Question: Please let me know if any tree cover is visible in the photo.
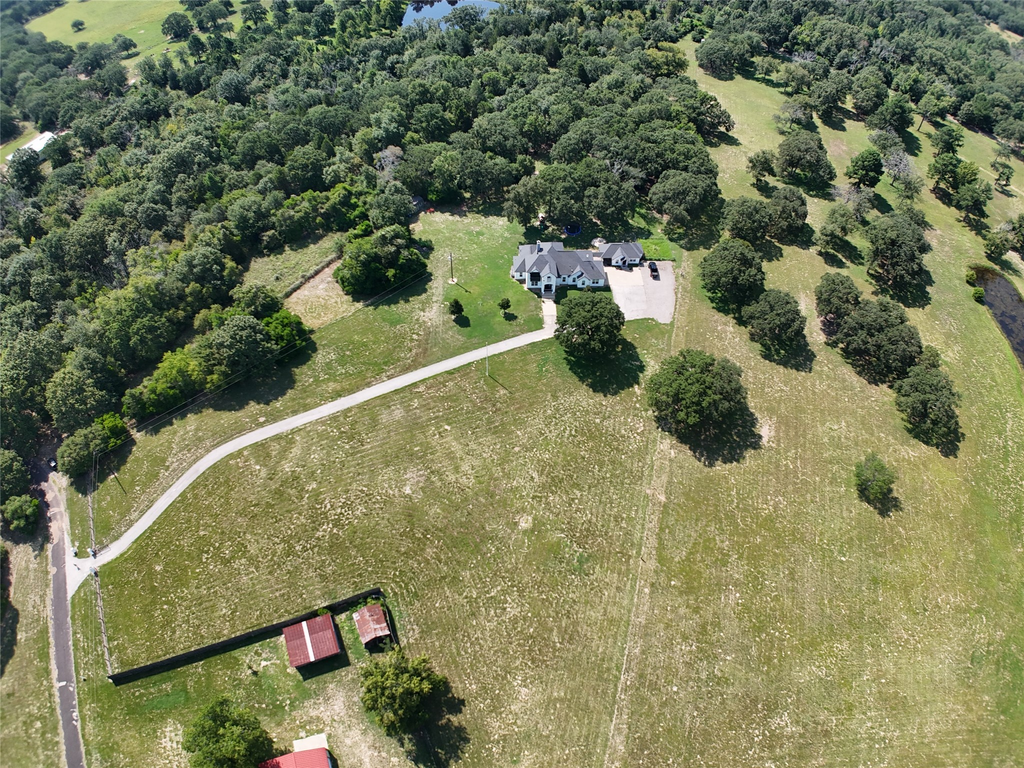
Yes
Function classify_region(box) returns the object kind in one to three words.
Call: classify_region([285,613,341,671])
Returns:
shed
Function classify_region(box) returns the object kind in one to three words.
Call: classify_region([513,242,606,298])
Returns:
house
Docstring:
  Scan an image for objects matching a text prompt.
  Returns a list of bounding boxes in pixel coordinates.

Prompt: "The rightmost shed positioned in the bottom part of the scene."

[354,604,390,646]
